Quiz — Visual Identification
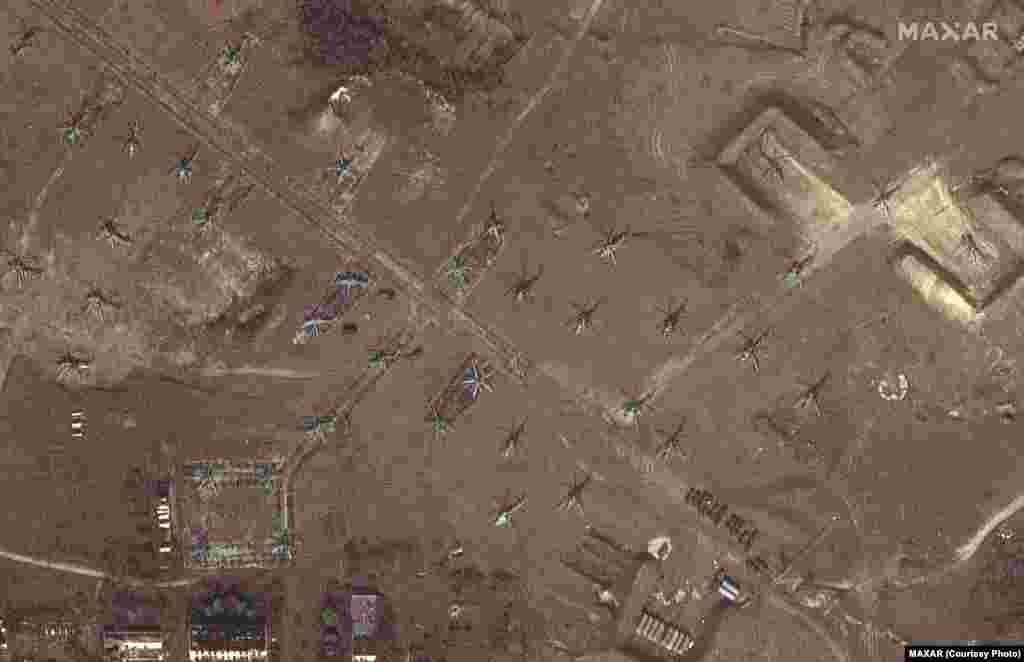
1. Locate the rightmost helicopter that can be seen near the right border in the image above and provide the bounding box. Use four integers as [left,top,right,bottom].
[958,228,988,261]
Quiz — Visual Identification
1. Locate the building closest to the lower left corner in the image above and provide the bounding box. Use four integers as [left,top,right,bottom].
[103,633,123,660]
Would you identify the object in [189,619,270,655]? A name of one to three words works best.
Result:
building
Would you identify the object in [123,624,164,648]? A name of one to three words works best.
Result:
building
